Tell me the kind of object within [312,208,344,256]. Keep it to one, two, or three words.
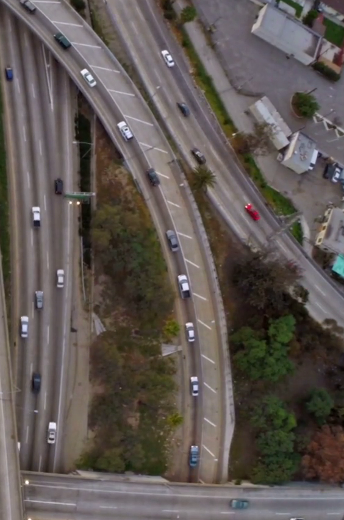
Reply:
building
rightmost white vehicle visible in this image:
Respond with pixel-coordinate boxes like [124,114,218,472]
[330,166,343,183]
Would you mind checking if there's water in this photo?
No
